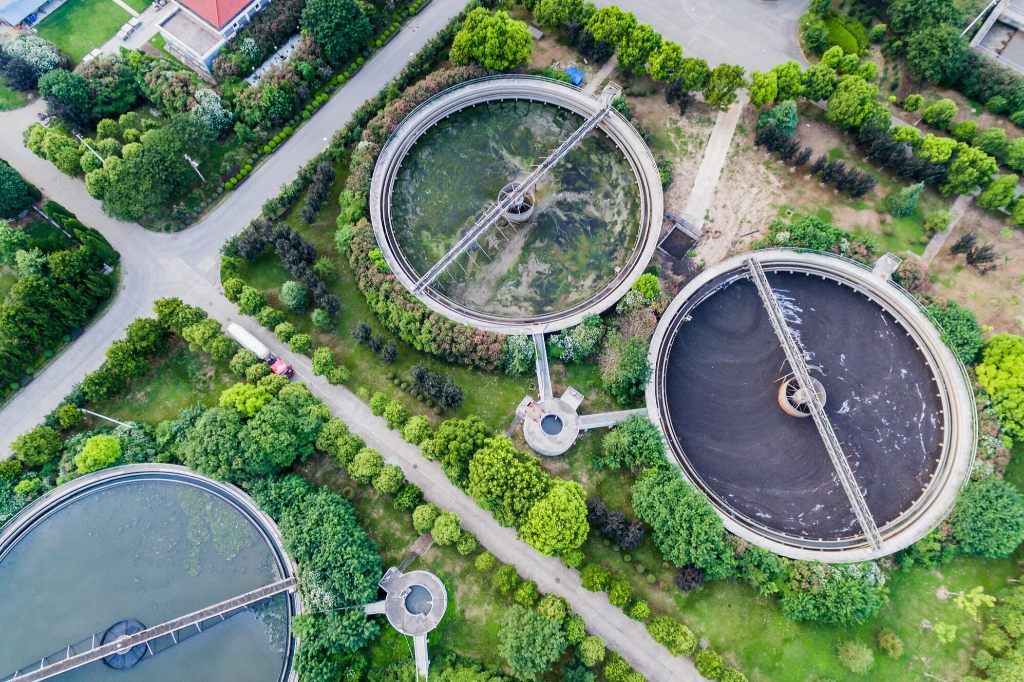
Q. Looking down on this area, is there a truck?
Yes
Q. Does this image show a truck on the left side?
Yes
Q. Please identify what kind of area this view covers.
industrial area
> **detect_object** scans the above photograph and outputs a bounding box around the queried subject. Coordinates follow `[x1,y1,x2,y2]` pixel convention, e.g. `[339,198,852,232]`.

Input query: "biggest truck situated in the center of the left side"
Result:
[224,320,297,381]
